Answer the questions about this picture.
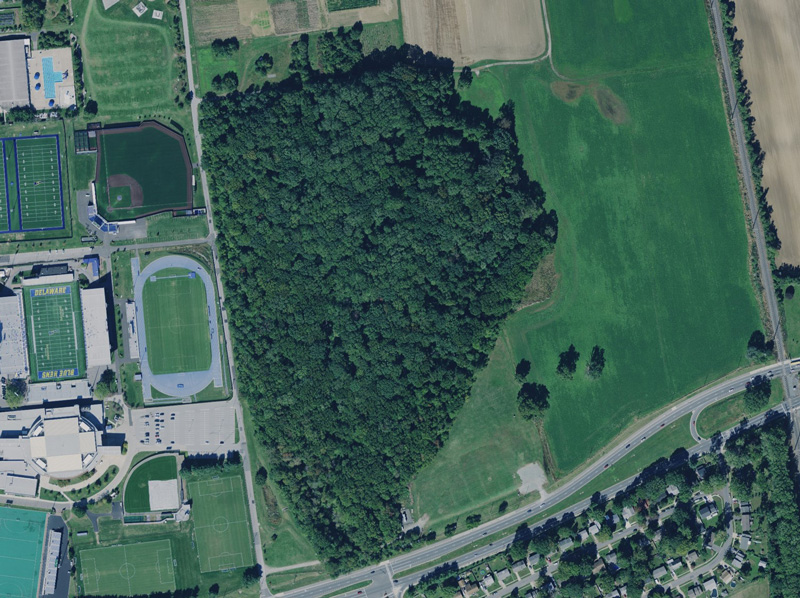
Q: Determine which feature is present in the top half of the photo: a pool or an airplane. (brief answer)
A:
pool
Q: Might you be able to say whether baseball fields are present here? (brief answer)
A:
Yes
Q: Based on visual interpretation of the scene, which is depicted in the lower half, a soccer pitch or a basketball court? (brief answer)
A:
soccer pitch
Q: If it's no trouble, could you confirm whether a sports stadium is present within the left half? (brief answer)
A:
Yes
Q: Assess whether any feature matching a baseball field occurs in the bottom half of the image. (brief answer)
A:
Yes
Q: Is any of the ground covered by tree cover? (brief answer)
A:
Yes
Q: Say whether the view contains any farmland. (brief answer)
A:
Yes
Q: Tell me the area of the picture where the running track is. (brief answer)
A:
left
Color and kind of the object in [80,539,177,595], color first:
green soccer field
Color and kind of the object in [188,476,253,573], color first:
green soccer field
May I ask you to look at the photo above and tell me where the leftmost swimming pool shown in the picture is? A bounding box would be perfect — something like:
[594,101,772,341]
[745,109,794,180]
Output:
[29,47,76,109]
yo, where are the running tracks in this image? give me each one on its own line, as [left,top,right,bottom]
[131,256,223,402]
